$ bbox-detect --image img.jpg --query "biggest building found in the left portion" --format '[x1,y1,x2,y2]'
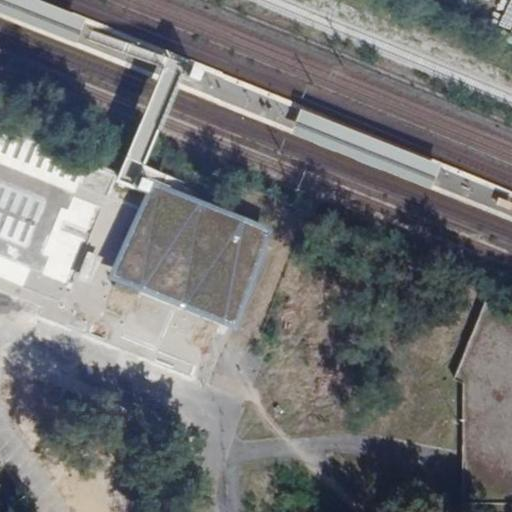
[116,176,272,324]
